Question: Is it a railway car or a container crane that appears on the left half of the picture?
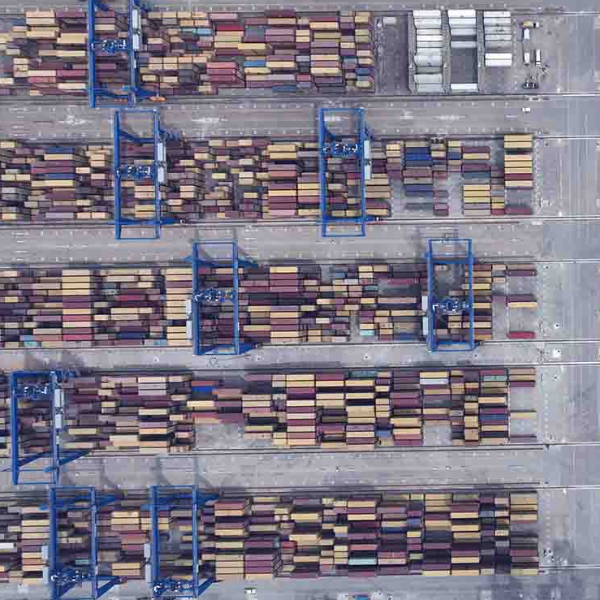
container crane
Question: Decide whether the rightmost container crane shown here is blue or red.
blue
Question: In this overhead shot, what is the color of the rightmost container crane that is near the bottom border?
blue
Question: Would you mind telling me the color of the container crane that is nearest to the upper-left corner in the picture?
blue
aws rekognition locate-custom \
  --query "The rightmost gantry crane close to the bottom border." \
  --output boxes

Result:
[143,485,220,600]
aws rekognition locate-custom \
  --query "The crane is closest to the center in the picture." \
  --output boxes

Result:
[185,240,260,356]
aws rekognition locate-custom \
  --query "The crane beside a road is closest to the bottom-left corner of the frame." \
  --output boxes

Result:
[42,485,125,600]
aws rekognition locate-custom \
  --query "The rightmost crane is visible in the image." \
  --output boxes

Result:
[420,238,482,352]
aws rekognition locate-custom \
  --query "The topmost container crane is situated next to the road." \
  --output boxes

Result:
[86,0,164,108]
